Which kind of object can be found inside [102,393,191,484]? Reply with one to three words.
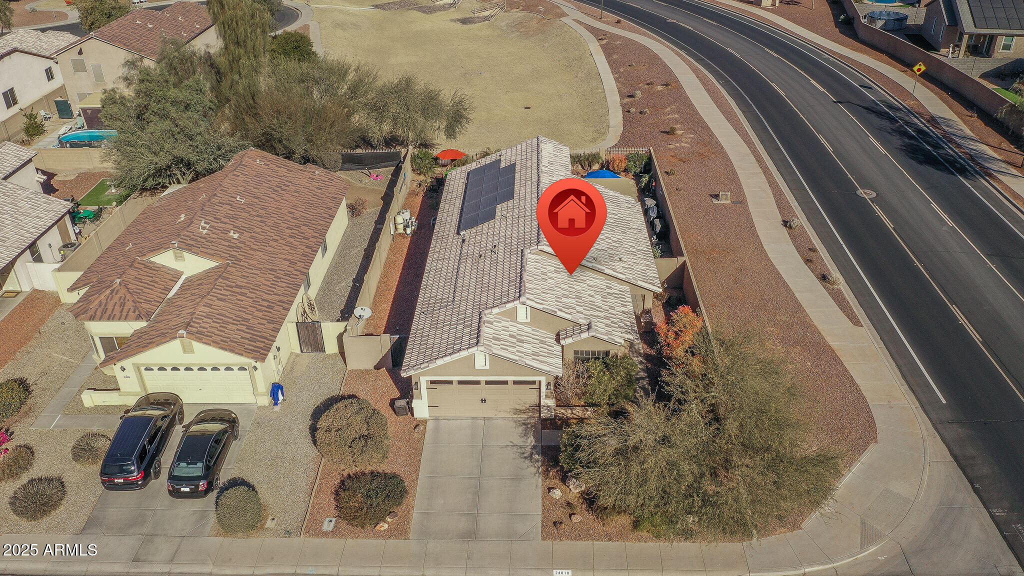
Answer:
car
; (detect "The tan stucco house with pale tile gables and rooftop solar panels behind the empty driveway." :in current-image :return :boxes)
[399,132,663,420]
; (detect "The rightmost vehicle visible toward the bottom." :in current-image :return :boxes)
[163,409,243,490]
